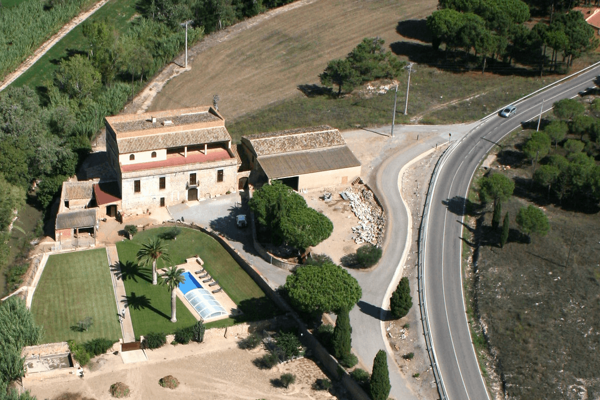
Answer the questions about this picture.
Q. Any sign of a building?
Yes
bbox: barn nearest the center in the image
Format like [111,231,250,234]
[237,124,363,187]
